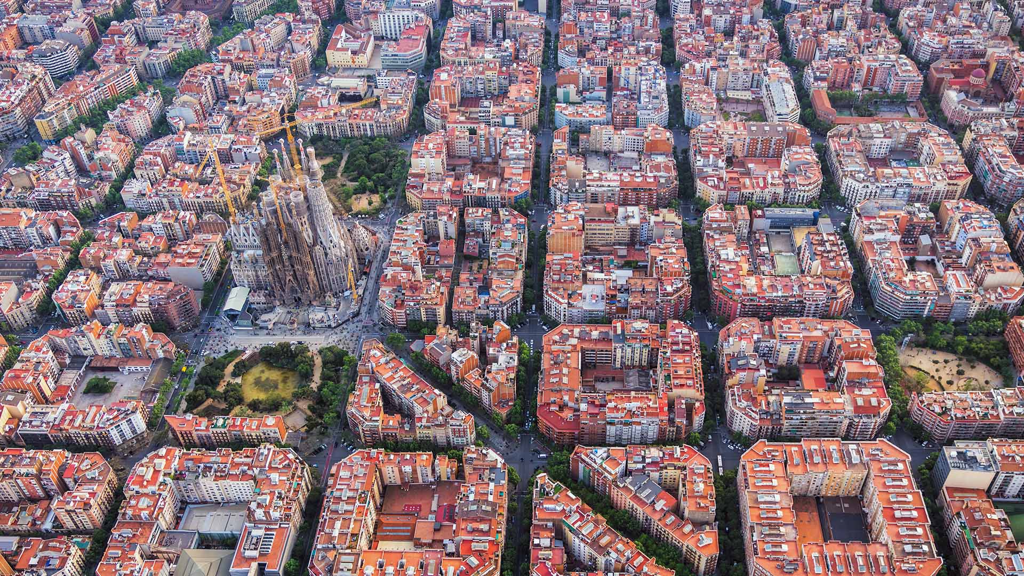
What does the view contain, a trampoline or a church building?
church building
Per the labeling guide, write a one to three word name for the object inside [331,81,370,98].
building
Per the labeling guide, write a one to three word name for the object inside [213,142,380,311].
church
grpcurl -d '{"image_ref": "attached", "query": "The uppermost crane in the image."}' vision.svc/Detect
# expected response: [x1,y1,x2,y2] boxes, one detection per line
[253,100,377,175]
